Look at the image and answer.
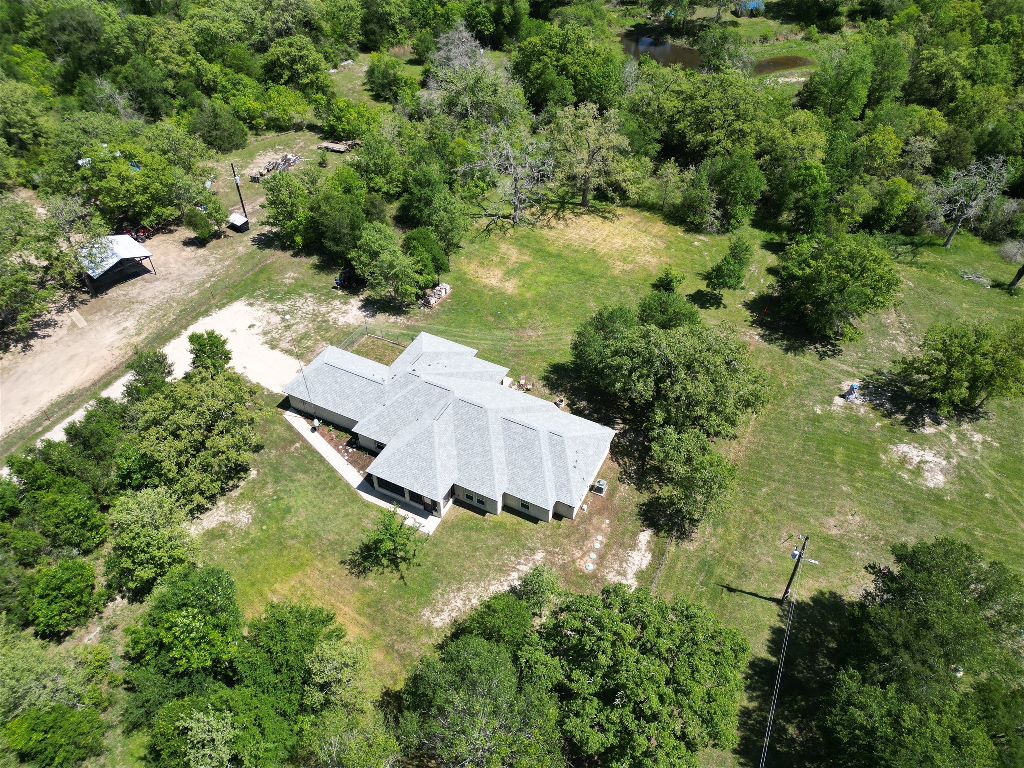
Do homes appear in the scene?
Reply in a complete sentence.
Yes, the picture does show a home.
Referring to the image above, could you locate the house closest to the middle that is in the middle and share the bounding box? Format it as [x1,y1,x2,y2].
[282,332,618,525]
